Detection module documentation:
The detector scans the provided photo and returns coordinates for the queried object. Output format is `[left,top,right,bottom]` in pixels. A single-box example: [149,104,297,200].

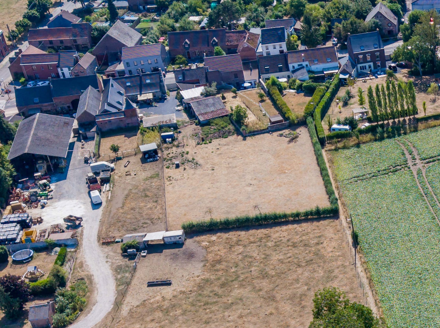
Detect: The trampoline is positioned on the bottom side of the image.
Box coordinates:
[10,242,33,265]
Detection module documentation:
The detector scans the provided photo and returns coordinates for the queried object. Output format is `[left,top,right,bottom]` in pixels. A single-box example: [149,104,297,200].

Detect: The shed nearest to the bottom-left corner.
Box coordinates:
[28,299,53,328]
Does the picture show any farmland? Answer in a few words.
Yes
